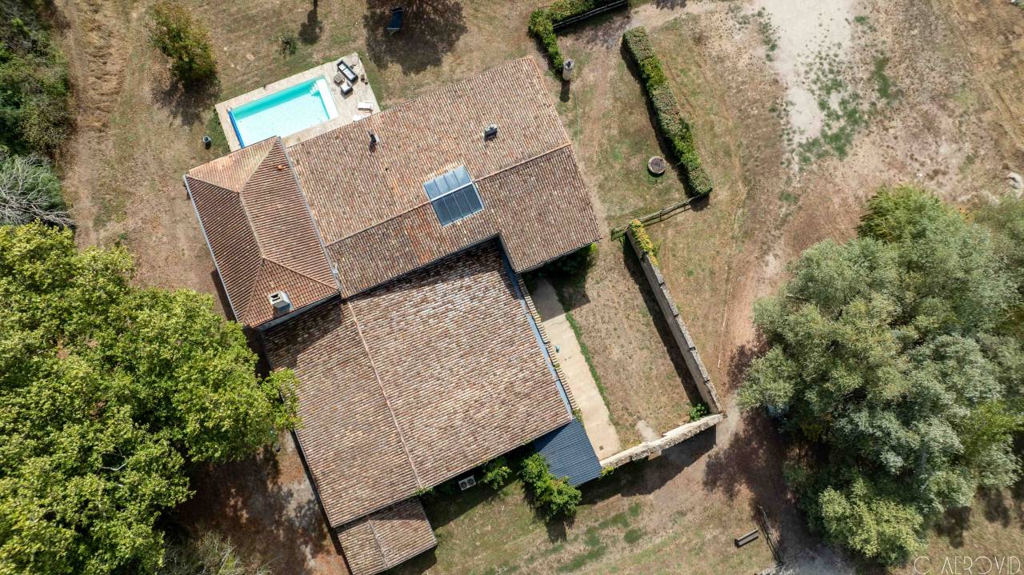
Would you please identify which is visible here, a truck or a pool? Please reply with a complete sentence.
Of the two, only a pool appears.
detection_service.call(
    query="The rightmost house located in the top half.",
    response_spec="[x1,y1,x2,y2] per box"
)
[288,55,602,299]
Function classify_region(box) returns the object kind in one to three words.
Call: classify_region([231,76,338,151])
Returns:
swimming pool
